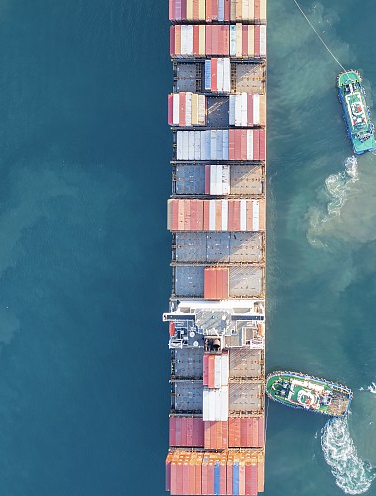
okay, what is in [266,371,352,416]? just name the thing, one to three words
boat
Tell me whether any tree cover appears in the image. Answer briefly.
No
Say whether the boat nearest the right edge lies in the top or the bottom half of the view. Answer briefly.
top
